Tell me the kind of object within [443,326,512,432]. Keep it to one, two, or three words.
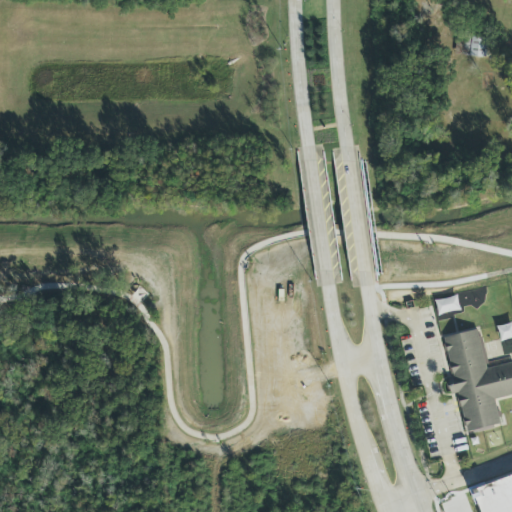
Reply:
building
